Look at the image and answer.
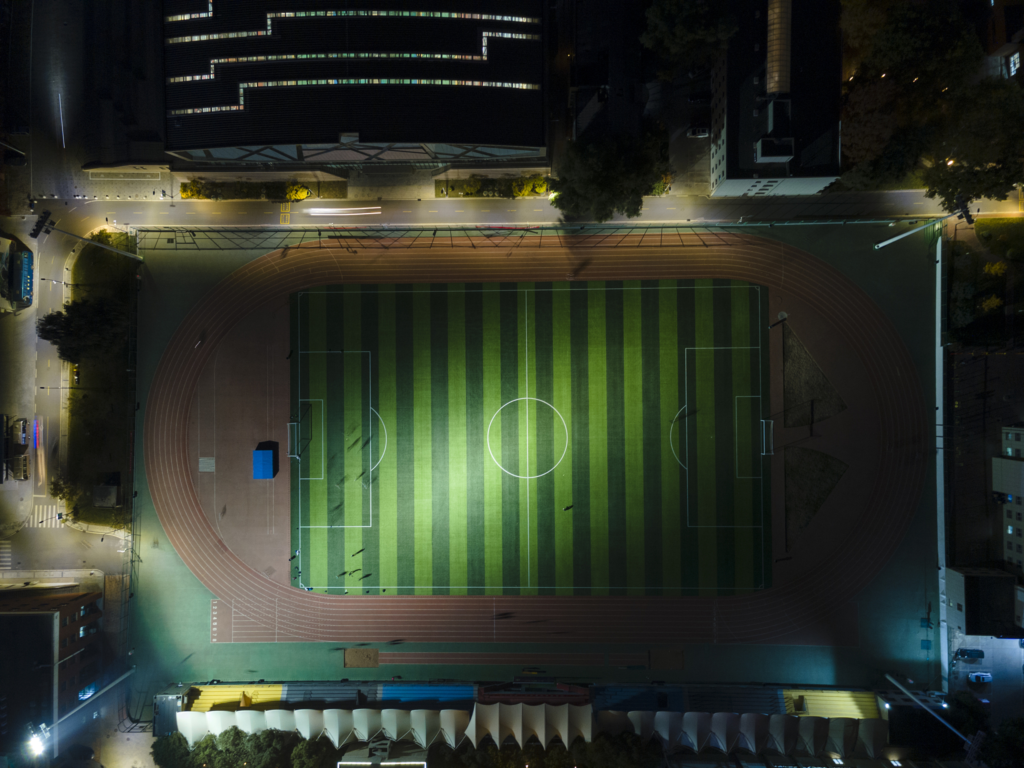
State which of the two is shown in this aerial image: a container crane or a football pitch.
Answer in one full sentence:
There is a football pitch in the scene.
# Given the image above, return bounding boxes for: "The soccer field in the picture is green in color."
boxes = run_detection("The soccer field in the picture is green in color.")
[290,280,773,597]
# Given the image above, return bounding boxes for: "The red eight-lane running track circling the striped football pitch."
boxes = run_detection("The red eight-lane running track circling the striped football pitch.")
[147,232,925,646]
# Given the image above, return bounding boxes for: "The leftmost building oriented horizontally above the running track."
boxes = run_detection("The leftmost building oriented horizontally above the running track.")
[163,0,551,183]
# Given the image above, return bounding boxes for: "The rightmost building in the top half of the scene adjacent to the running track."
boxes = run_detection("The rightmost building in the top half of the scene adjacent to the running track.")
[709,0,840,197]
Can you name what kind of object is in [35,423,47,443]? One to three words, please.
vehicle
